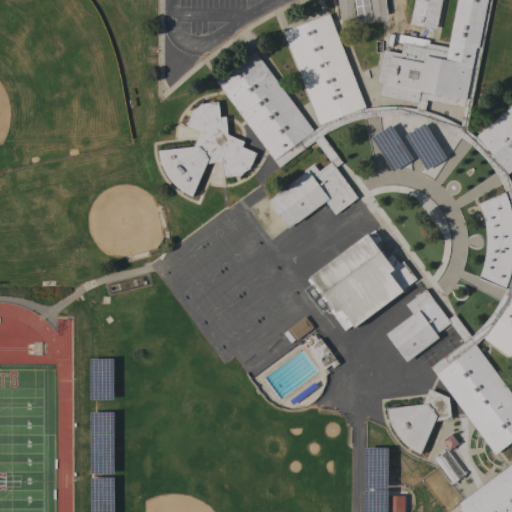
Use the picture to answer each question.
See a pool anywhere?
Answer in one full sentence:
Yes, the picture does show a pool.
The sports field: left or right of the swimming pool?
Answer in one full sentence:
Looking at the picture, you'll find the sports field to the left of the swimming pool.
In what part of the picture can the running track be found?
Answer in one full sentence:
The running track appears toward the bottom left of the photo.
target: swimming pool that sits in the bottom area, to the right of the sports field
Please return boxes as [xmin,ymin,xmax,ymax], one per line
[255,338,331,408]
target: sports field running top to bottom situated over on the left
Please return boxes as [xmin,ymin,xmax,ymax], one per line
[0,364,58,512]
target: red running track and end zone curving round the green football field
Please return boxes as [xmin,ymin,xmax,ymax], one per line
[0,303,74,512]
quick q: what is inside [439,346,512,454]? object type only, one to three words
building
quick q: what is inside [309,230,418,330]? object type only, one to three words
building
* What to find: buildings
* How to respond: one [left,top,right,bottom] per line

[481,193,512,287]
[340,0,355,20]
[284,12,366,126]
[222,56,314,159]
[388,290,452,362]
[159,101,255,196]
[486,300,512,358]
[285,318,314,343]
[439,346,512,454]
[462,466,512,512]
[380,0,490,110]
[309,230,418,330]
[412,0,444,28]
[356,0,372,16]
[270,162,359,227]
[374,0,387,18]
[394,496,406,512]
[436,450,468,486]
[304,332,340,368]
[388,390,452,455]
